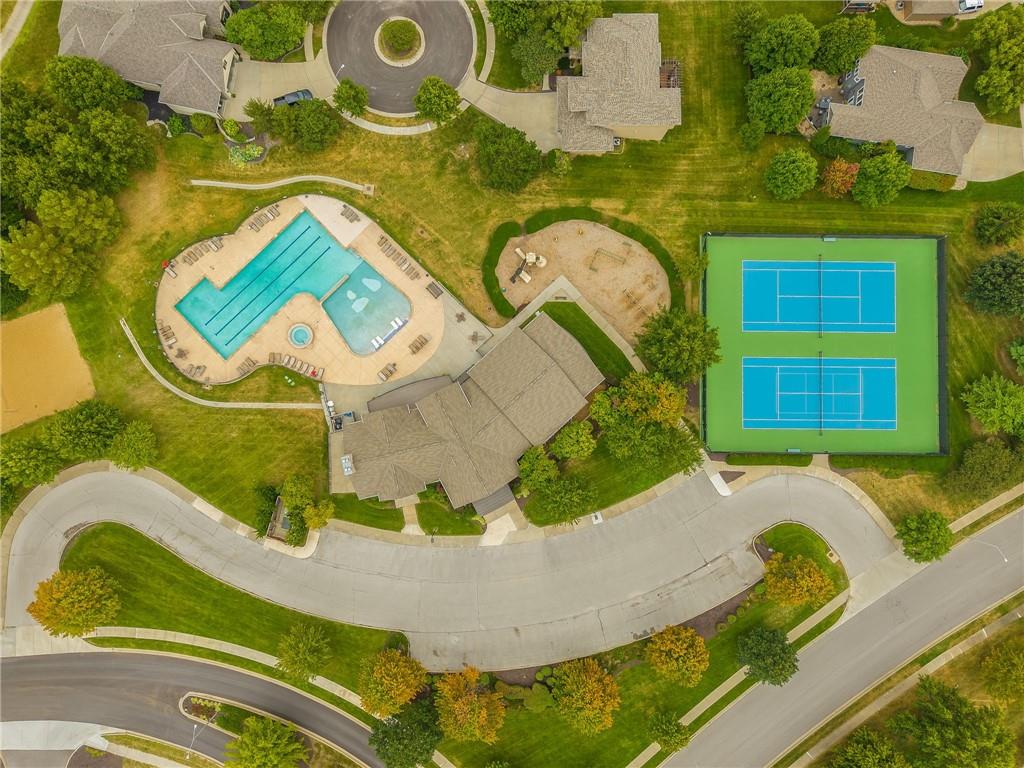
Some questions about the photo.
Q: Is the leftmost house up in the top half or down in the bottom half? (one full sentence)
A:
You can find the leftmost house in the top half.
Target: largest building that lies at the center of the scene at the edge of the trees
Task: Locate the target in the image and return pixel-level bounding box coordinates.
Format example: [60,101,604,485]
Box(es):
[344,312,607,519]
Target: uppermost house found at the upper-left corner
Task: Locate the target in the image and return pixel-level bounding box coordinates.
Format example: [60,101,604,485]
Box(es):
[57,0,233,119]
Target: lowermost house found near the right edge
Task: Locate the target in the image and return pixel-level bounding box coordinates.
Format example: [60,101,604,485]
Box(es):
[823,46,985,177]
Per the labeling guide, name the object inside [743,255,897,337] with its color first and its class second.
blue tennis court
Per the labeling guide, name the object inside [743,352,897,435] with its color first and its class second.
blue tennis court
